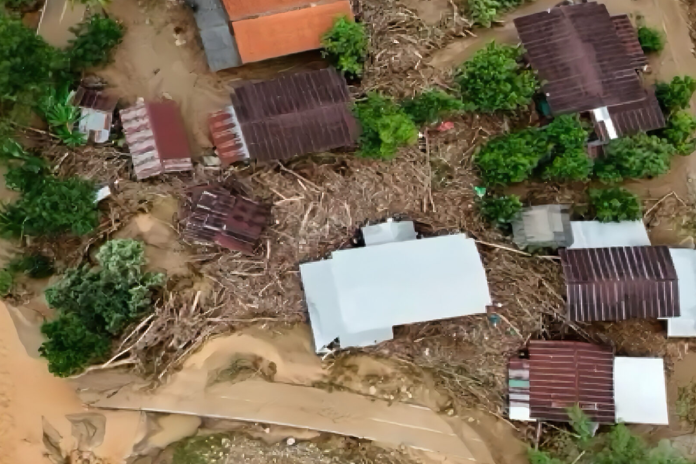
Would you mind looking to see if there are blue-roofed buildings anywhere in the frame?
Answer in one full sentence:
No, there's no blue-roofed building here.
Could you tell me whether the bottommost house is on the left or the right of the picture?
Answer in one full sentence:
It is on the right.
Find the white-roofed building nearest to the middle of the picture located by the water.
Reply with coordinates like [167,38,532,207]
[300,220,492,352]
